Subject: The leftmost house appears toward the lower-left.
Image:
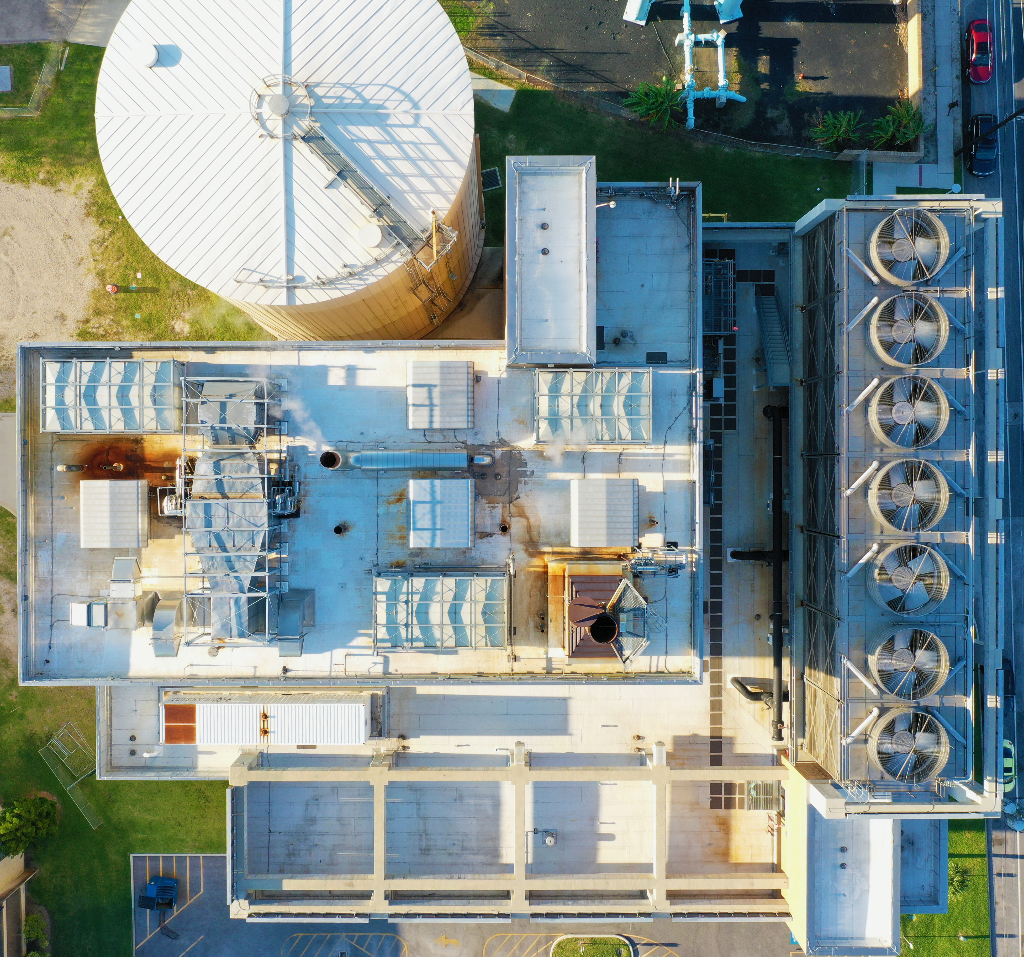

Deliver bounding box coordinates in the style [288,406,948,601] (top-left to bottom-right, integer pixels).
[0,853,39,905]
